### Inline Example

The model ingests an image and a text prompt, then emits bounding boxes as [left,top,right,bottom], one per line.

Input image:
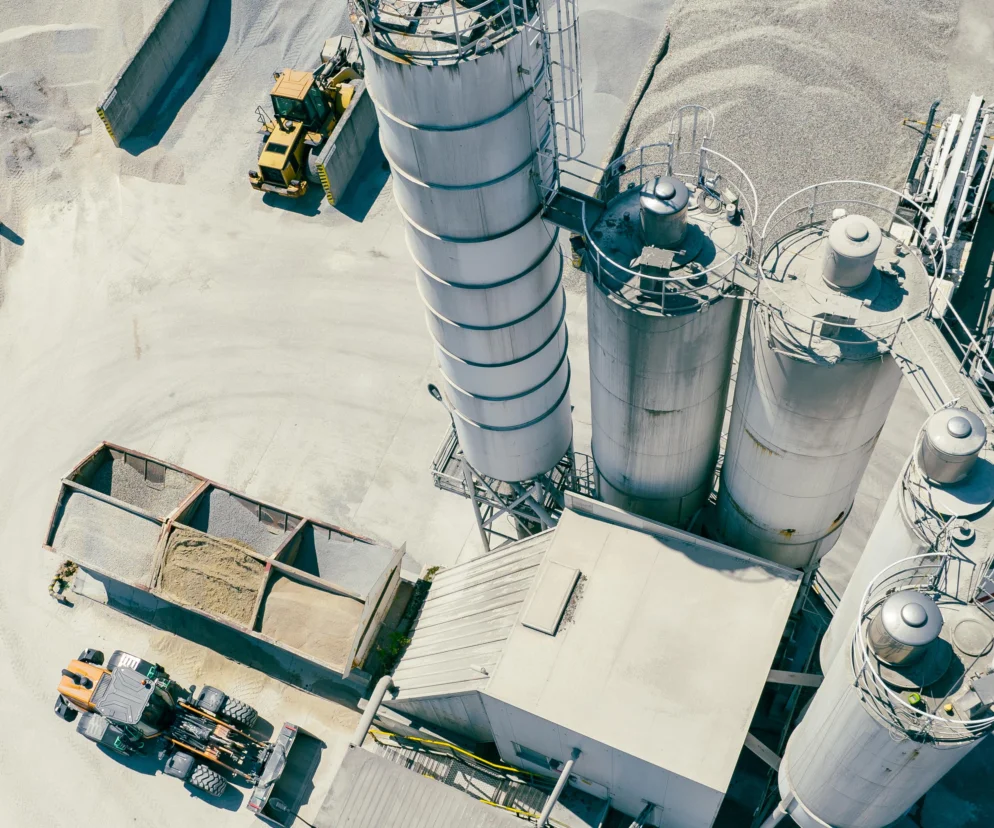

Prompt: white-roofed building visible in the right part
[385,489,808,828]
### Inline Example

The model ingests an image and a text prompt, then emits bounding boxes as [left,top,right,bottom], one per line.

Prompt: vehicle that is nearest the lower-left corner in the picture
[60,654,324,825]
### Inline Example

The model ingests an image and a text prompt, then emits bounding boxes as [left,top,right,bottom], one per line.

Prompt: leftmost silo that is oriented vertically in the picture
[348,0,596,552]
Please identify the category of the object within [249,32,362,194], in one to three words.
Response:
work vehicle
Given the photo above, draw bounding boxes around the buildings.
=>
[306,745,528,828]
[385,489,808,828]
